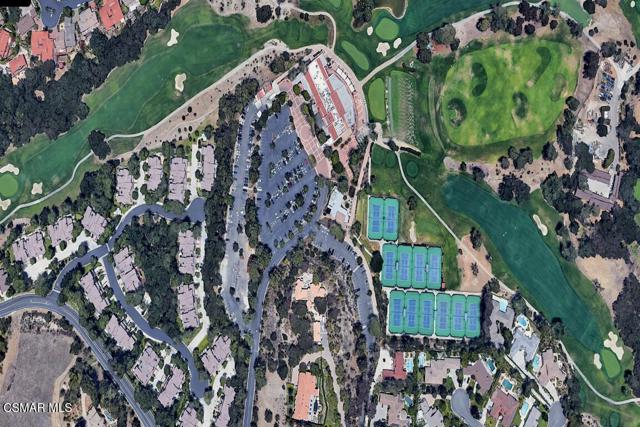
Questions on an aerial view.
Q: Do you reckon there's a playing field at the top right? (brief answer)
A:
Yes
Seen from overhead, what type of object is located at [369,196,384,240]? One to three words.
tennis court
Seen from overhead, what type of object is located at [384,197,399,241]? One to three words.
tennis court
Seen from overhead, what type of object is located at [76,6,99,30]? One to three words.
house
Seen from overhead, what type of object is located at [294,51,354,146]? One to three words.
building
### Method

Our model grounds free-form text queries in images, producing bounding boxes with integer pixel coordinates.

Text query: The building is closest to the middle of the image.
[329,190,349,223]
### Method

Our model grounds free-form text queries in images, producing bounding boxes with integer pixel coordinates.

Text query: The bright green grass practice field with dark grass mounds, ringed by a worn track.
[429,38,581,154]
